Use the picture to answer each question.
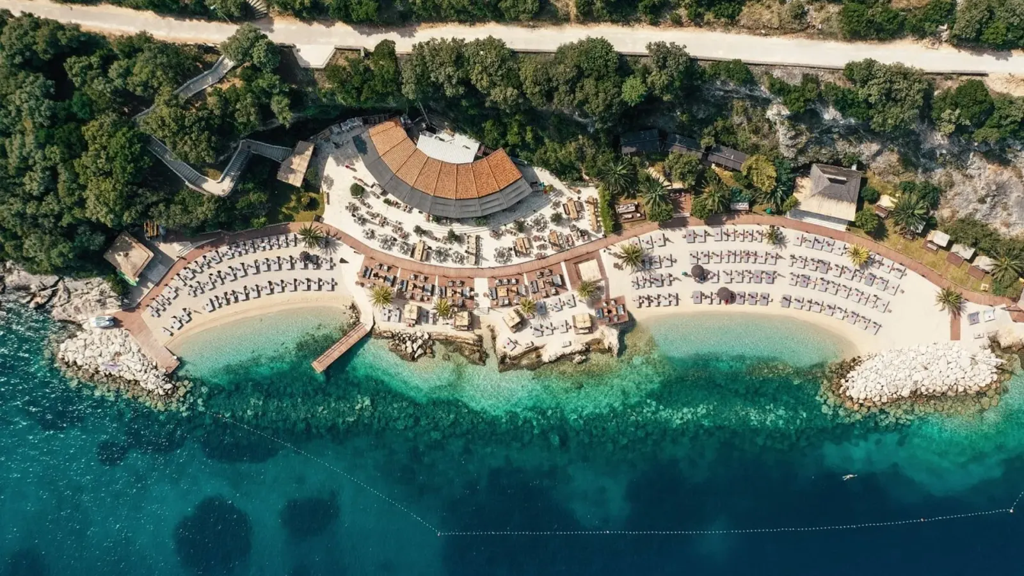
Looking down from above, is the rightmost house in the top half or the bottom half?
top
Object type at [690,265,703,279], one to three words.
umbrella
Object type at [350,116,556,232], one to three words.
building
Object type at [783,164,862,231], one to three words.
house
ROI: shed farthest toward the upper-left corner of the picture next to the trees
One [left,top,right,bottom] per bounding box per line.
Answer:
[104,231,157,282]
